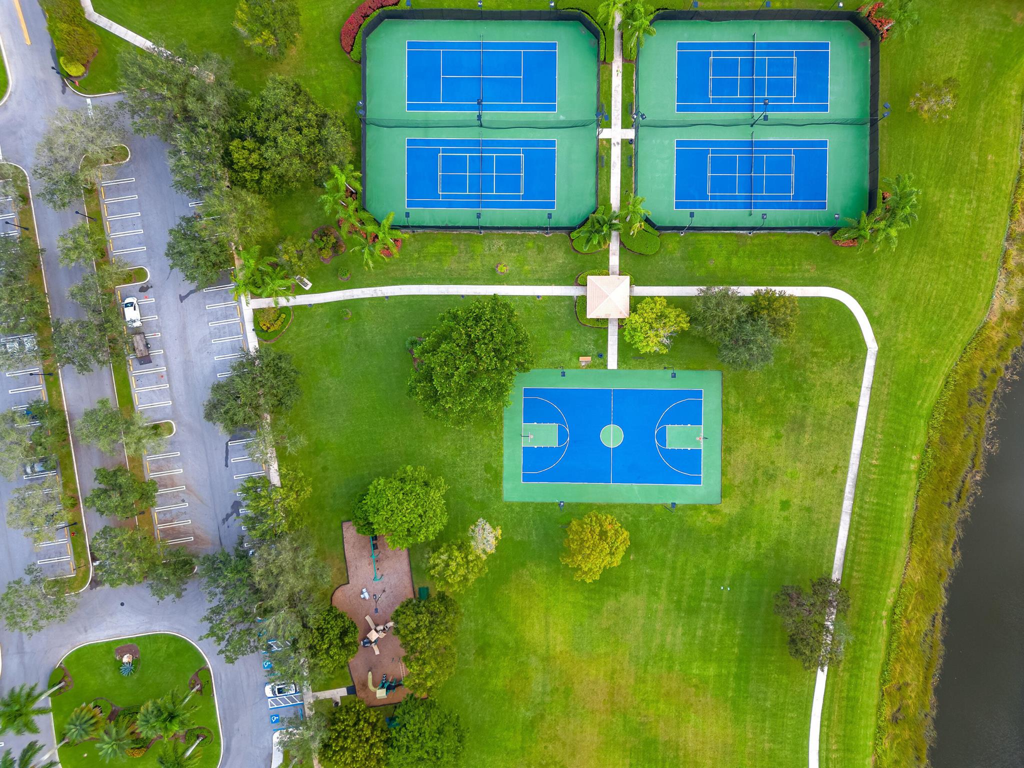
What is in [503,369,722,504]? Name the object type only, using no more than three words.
basketball court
